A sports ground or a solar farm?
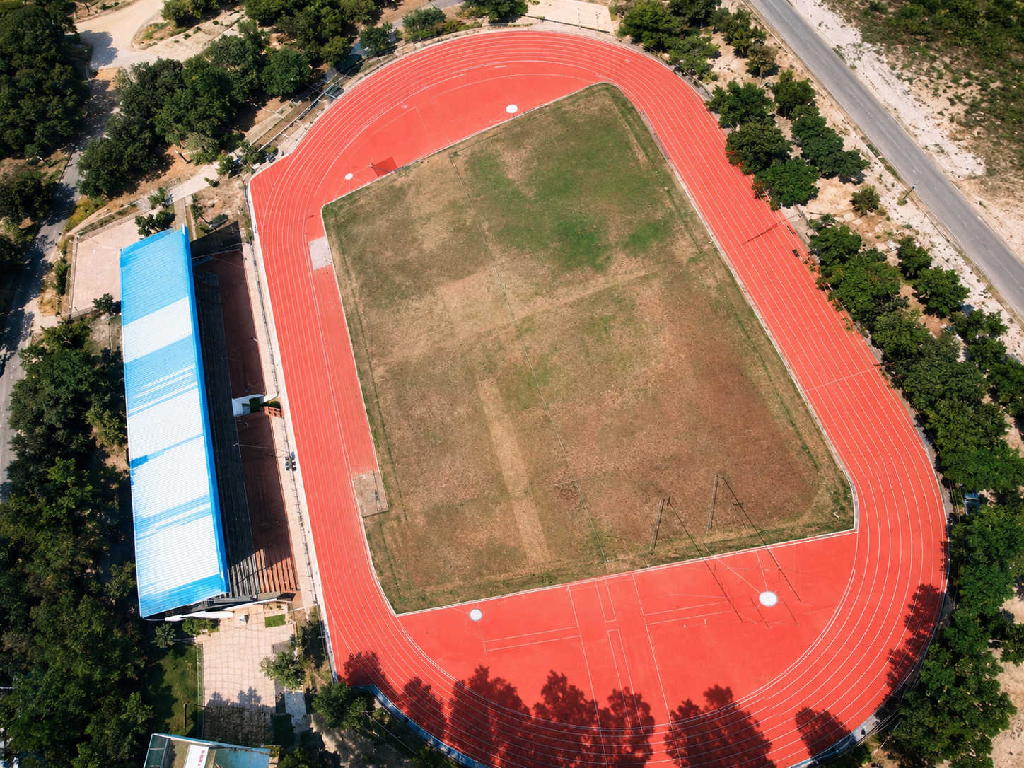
sports ground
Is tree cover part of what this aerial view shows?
Yes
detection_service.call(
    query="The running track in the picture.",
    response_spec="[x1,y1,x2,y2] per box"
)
[250,30,949,768]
